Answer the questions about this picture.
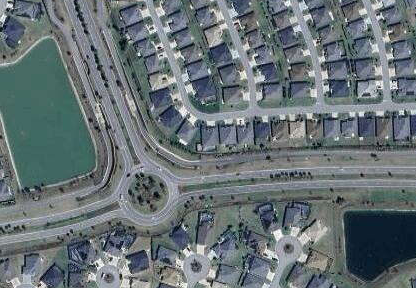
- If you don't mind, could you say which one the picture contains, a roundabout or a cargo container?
roundabout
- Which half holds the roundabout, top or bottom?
bottom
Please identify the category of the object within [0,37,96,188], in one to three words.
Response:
pond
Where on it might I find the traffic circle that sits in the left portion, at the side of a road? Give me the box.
[117,163,180,225]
